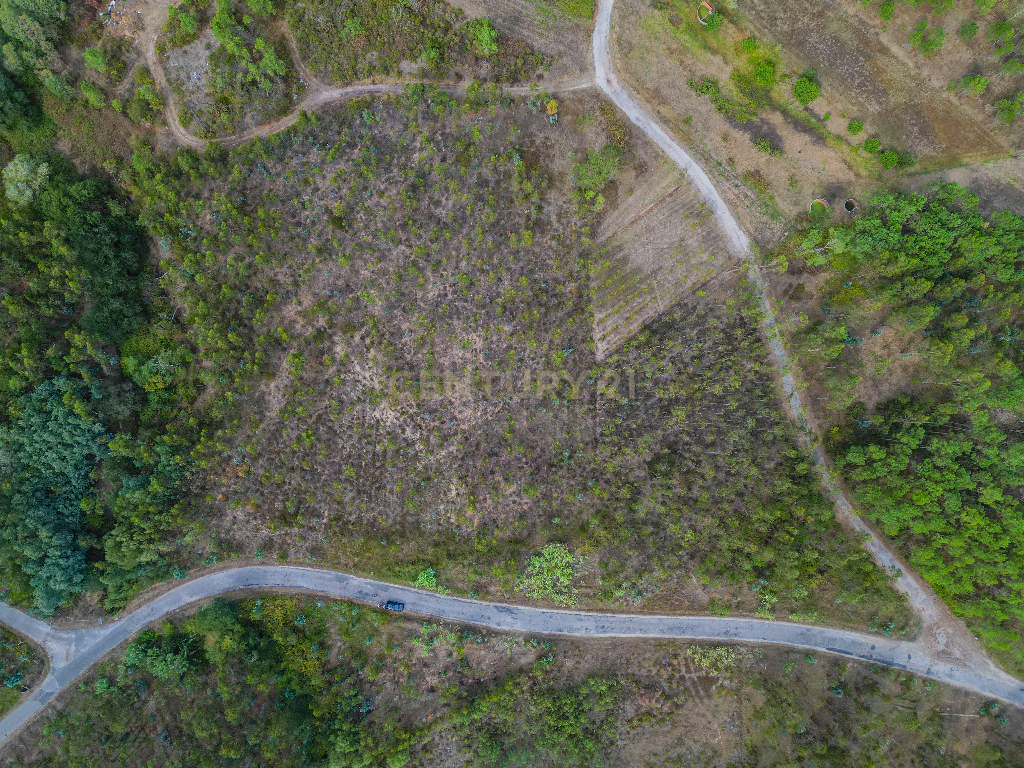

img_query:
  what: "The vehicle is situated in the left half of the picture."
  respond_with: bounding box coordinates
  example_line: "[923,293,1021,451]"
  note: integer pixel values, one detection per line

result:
[382,599,406,612]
